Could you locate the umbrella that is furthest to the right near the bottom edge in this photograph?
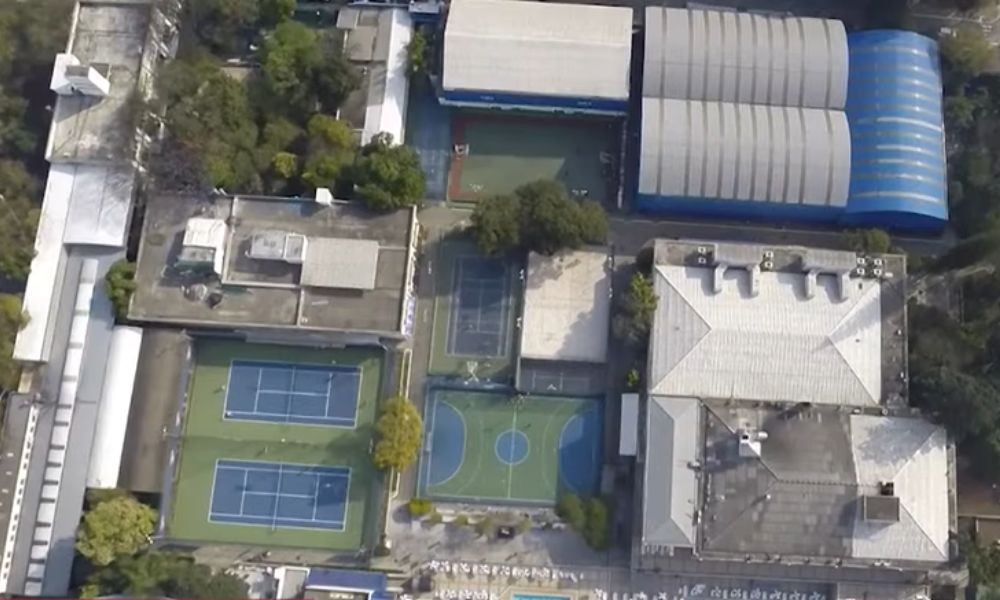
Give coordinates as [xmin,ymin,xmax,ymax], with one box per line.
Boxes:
[417,568,439,592]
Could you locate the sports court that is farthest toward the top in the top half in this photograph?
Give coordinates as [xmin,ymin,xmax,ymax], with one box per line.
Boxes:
[446,111,621,212]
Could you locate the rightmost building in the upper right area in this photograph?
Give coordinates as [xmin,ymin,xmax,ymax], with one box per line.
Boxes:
[833,29,949,232]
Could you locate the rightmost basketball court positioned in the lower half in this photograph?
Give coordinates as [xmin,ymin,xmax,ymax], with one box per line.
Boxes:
[517,350,605,391]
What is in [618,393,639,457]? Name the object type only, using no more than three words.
building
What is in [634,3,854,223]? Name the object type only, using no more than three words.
building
